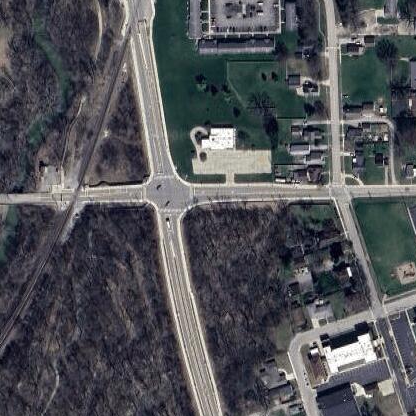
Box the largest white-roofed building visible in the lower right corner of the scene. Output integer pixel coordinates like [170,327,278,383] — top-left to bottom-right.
[323,333,378,375]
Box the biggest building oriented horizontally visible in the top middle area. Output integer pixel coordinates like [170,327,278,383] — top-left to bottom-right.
[217,38,274,52]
